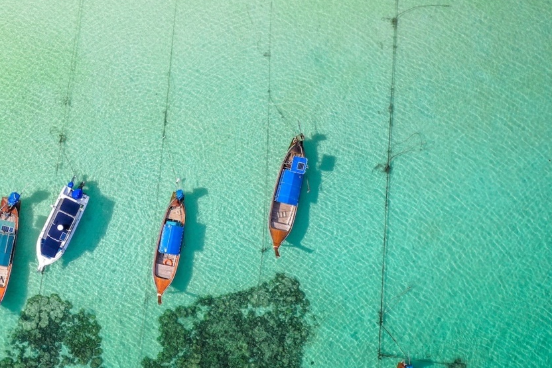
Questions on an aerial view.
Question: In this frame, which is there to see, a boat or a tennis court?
boat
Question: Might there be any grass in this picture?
No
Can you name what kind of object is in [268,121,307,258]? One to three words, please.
boat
